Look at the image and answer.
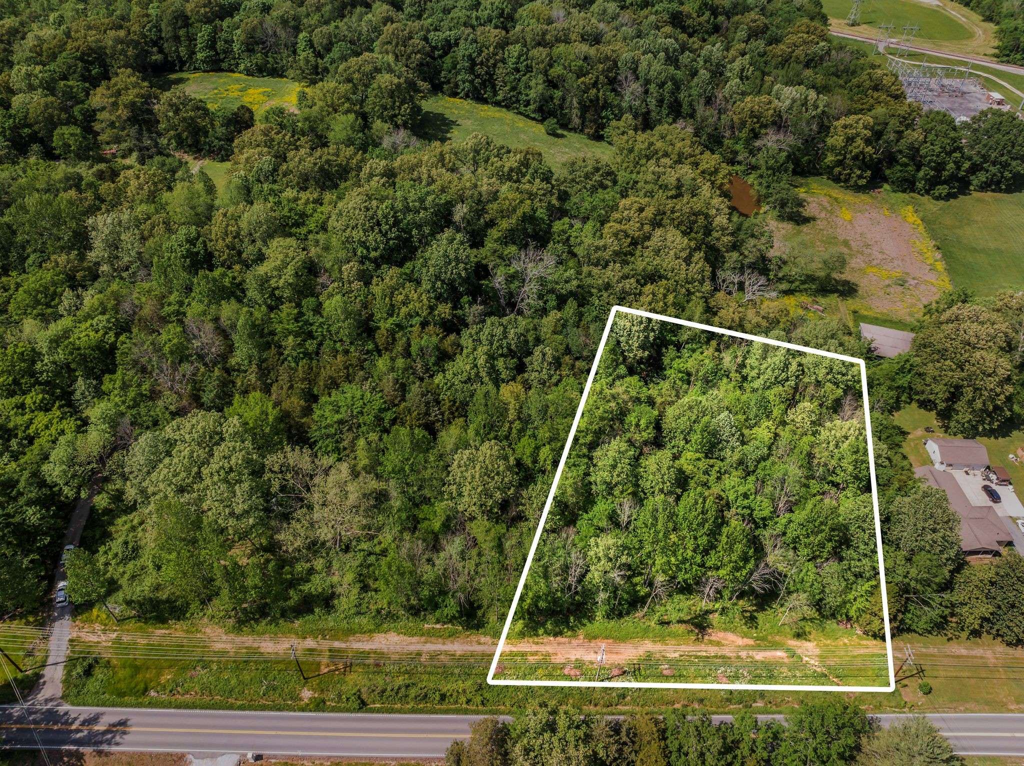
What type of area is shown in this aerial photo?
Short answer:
forest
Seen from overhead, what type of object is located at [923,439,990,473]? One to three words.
building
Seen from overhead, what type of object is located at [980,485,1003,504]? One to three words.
car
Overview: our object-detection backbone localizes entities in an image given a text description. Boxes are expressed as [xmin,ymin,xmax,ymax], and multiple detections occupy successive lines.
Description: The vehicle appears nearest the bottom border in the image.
[53,582,67,604]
